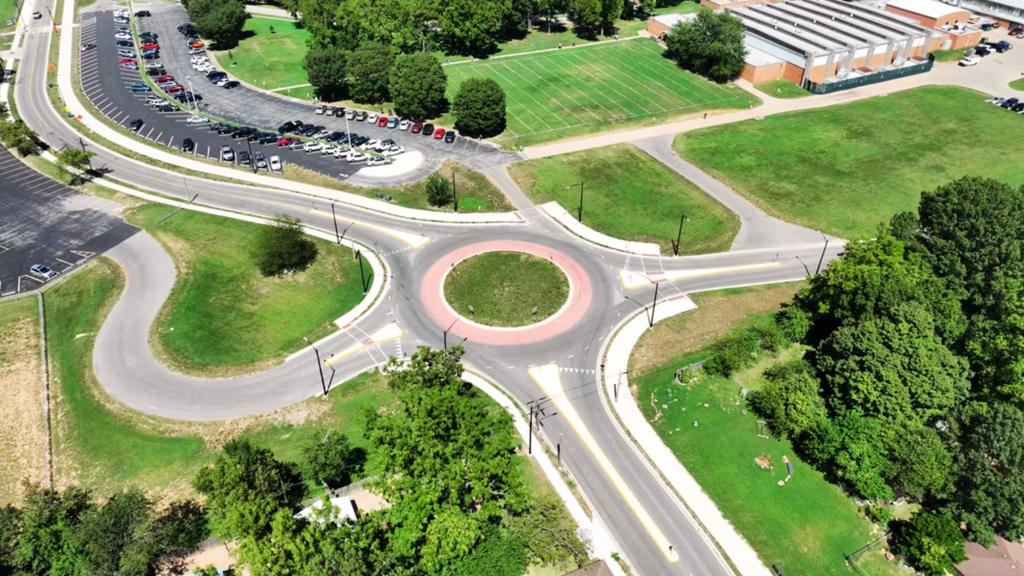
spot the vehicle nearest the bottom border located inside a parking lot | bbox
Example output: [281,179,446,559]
[28,264,56,279]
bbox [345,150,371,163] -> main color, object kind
white vehicle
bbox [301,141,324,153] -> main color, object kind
white vehicle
